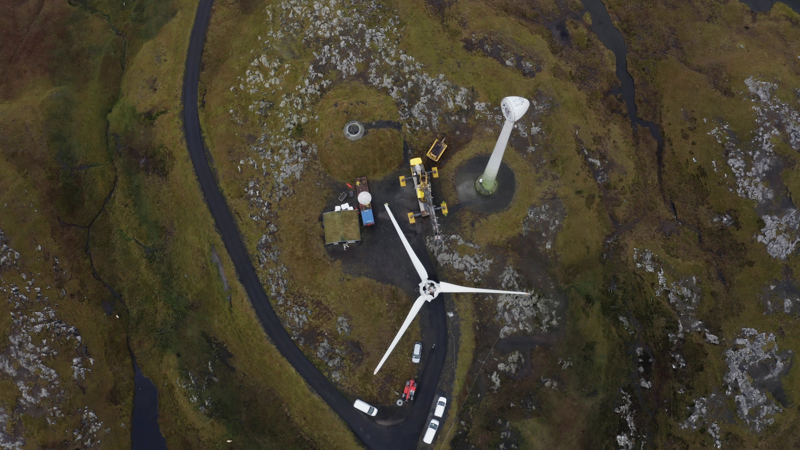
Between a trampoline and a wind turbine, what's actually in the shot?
wind turbine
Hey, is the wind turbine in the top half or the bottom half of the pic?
top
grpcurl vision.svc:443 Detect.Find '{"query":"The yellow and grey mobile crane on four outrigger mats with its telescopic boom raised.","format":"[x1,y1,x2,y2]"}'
[399,157,448,245]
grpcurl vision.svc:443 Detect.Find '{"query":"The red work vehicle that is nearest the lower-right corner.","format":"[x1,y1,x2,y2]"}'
[402,380,417,405]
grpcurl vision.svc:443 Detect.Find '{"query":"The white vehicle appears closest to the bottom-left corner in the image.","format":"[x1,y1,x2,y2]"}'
[352,397,379,415]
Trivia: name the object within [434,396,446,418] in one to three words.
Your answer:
vehicle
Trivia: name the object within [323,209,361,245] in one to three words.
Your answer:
shed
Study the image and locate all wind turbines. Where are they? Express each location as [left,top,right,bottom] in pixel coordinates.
[476,96,532,196]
